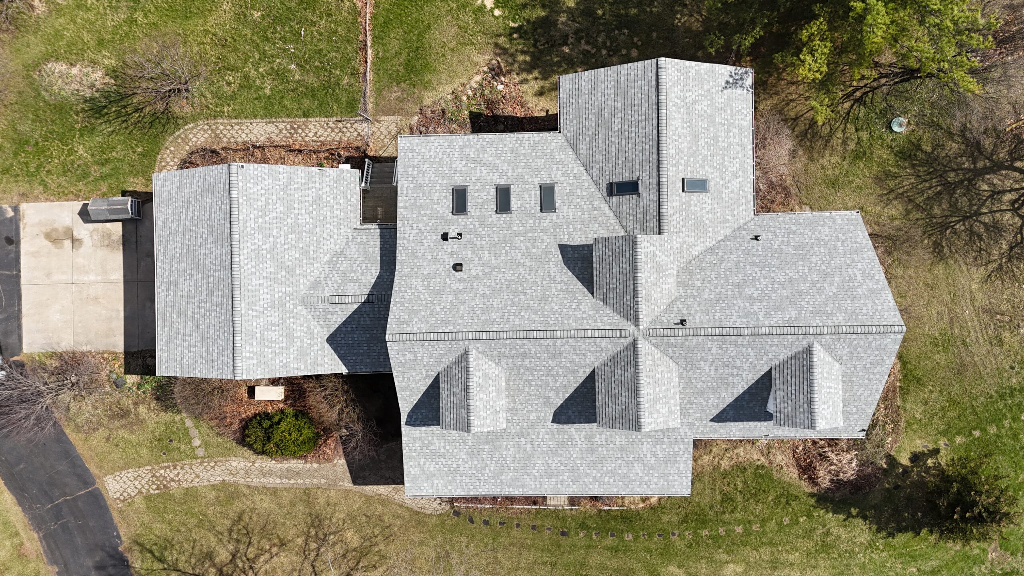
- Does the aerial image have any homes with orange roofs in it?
No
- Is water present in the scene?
No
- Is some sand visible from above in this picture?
No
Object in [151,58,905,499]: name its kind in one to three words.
house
